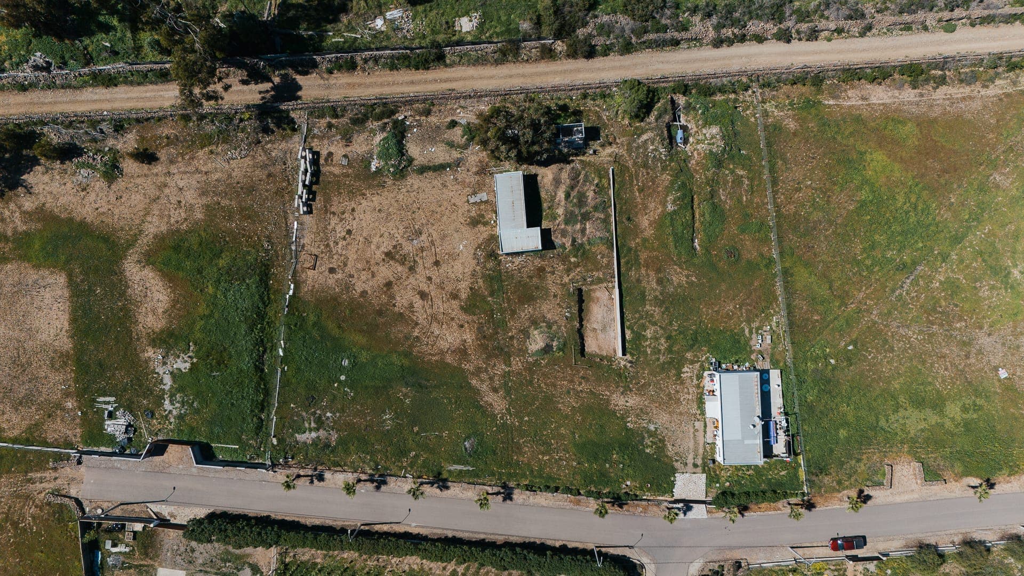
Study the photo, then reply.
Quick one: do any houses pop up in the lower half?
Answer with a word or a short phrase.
Yes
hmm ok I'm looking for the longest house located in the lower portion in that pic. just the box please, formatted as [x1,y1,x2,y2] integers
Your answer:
[712,369,765,466]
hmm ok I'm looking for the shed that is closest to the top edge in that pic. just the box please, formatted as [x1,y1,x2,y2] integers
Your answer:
[553,123,585,151]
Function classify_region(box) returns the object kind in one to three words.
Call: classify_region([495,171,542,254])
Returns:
shed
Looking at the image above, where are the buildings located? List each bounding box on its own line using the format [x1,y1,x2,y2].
[553,123,585,151]
[712,369,765,466]
[495,171,542,254]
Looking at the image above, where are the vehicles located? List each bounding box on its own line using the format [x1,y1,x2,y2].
[829,536,867,554]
